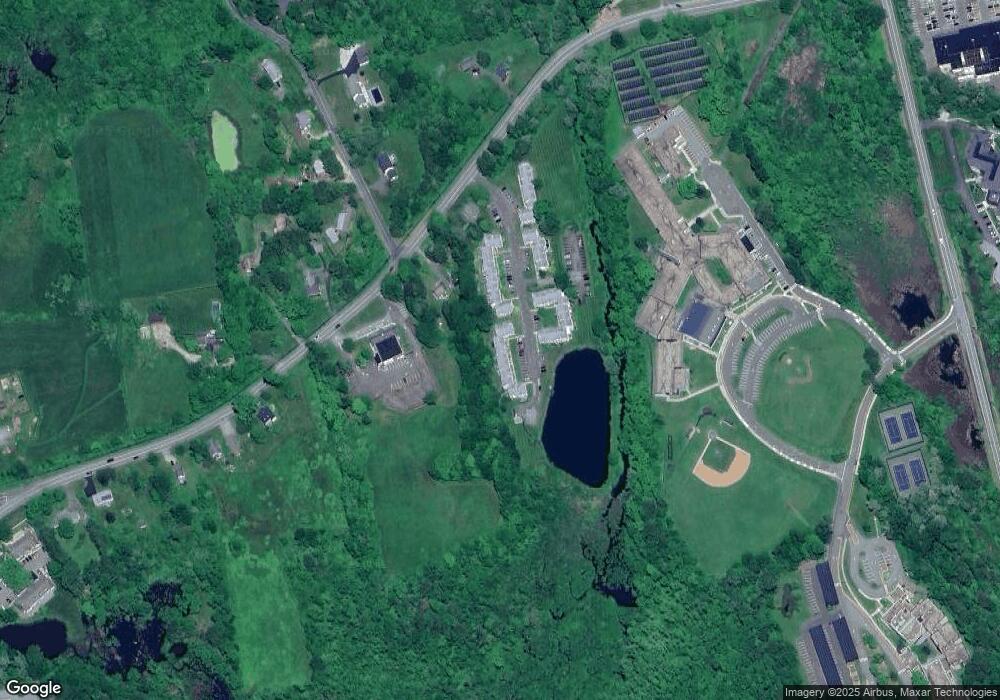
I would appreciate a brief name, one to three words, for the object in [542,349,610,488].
pond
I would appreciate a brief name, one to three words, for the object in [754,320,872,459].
baseball field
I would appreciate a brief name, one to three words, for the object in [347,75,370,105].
house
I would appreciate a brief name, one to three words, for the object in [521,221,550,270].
building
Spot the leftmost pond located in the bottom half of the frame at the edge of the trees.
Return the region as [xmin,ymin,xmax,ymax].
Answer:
[0,617,66,657]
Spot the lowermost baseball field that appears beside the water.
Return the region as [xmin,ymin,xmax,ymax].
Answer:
[655,391,841,576]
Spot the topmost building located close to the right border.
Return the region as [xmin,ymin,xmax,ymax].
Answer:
[933,22,1000,82]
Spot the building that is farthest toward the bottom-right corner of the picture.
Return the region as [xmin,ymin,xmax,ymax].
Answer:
[882,585,969,700]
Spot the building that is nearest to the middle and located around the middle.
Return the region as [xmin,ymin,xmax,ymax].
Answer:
[492,321,528,402]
